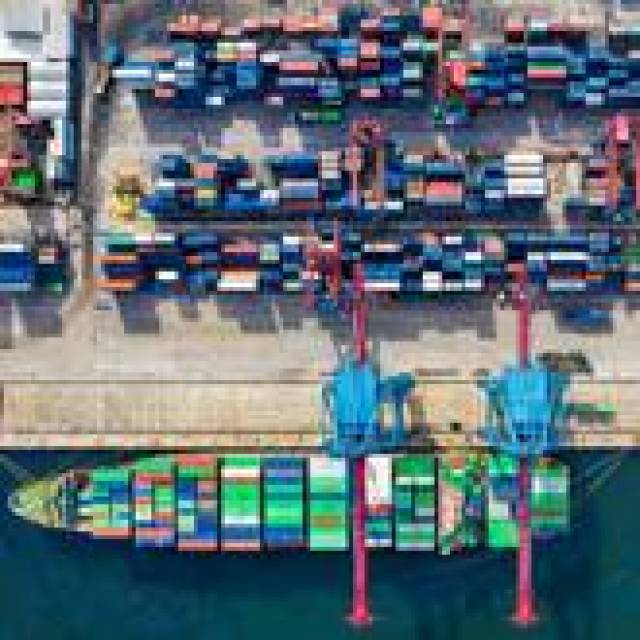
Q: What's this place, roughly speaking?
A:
port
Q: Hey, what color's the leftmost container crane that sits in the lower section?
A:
blue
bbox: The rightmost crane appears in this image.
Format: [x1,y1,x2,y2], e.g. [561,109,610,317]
[581,108,636,218]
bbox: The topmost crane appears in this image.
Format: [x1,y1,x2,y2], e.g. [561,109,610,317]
[424,8,466,118]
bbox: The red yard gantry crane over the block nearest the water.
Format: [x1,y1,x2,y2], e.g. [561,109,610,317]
[308,221,341,304]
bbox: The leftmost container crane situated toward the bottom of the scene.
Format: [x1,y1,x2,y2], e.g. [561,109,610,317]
[312,262,418,621]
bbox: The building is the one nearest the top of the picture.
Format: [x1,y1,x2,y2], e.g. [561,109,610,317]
[0,0,80,72]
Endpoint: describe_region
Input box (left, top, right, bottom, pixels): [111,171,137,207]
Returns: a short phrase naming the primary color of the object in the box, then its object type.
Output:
yellow work vehicle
